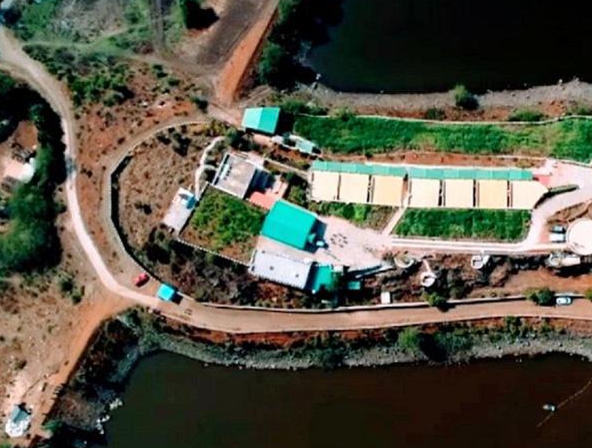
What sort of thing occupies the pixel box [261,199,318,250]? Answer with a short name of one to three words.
building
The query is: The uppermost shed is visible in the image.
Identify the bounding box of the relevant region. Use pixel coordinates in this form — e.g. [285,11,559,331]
[242,107,283,134]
